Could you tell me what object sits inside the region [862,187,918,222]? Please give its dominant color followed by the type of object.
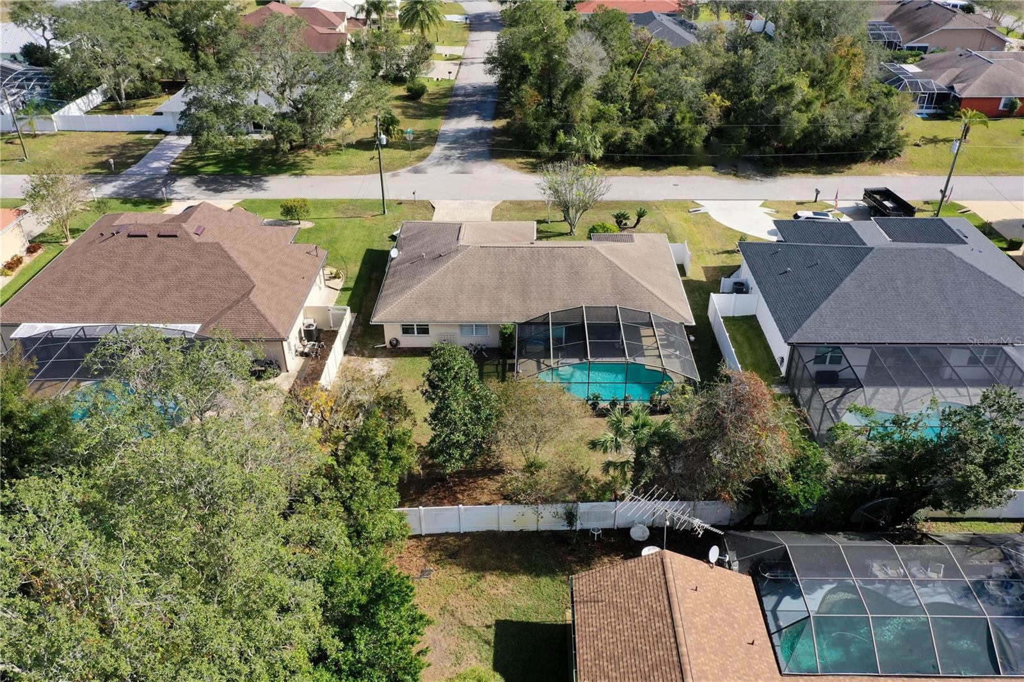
black trailer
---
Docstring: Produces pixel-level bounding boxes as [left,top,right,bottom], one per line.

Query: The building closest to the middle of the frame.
[363,220,695,357]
